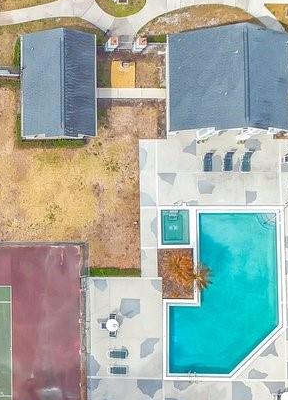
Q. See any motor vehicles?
No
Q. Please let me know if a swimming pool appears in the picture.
Yes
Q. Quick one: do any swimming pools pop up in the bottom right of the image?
Yes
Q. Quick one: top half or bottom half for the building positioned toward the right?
top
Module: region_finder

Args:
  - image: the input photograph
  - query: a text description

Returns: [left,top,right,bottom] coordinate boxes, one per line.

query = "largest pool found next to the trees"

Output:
[163,204,287,384]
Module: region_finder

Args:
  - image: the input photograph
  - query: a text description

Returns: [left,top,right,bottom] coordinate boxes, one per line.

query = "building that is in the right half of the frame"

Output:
[165,23,288,132]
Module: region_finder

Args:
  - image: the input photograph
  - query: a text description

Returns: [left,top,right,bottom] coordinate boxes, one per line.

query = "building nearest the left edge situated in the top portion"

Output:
[20,28,98,138]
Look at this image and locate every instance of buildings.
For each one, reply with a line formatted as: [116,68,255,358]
[165,23,288,132]
[20,28,98,138]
